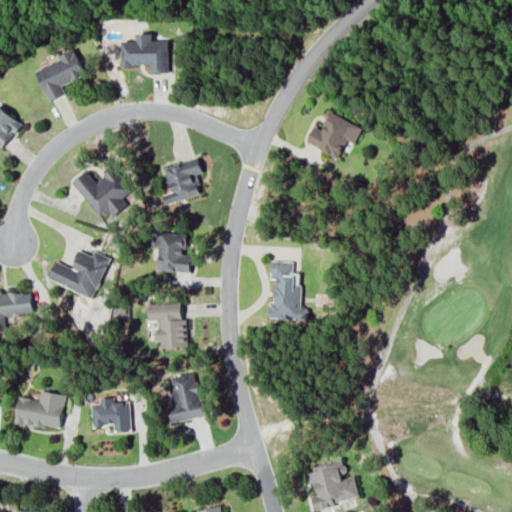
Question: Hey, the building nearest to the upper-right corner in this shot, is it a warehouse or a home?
home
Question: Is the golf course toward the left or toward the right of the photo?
right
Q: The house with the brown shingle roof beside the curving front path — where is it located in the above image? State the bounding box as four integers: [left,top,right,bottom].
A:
[306,110,363,160]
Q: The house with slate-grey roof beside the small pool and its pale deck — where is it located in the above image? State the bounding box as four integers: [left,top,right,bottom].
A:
[121,33,168,72]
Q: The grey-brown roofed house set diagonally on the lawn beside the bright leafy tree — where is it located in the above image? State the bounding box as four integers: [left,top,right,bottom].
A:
[36,49,84,102]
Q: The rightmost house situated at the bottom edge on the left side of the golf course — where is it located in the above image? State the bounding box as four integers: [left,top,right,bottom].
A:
[309,462,359,512]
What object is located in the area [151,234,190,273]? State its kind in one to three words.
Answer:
house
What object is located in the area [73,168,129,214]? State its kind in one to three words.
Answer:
house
